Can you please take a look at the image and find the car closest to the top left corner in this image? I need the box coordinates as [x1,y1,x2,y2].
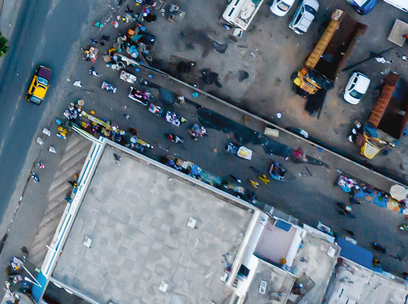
[25,64,51,104]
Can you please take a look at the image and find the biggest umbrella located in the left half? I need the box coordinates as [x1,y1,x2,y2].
[139,29,158,48]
